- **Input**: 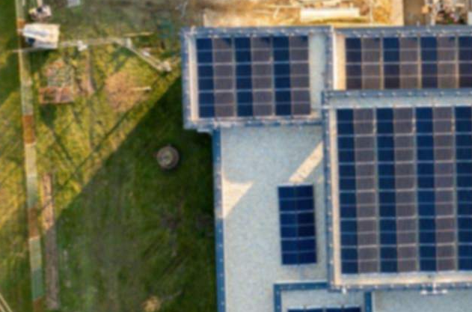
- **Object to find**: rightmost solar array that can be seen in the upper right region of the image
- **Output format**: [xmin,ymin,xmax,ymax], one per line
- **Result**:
[346,34,472,91]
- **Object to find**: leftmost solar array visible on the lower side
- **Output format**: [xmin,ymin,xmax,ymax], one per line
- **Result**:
[279,183,317,266]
